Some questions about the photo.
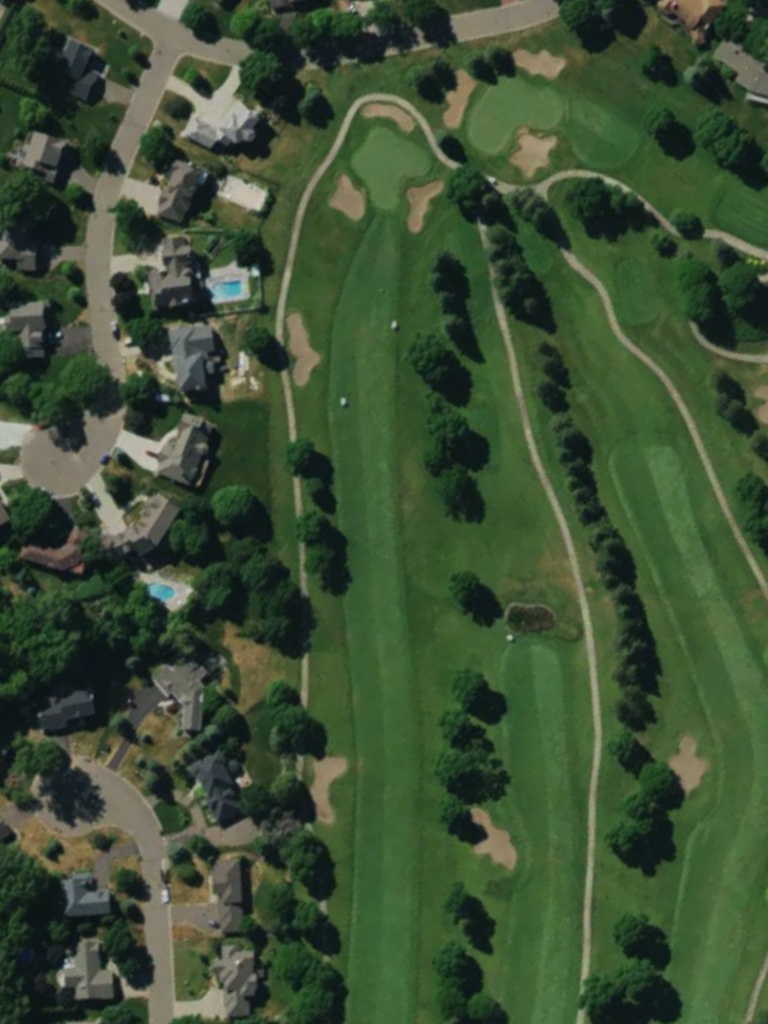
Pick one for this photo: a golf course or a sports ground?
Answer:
golf course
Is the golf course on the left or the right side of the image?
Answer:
right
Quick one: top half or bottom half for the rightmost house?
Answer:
top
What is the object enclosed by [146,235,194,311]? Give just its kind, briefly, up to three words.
house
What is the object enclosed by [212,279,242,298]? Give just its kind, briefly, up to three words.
swimming pool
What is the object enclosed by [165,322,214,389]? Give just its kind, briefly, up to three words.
house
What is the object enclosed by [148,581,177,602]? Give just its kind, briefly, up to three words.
swimming pool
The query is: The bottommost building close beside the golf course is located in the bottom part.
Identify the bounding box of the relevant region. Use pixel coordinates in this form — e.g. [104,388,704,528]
[208,944,261,1018]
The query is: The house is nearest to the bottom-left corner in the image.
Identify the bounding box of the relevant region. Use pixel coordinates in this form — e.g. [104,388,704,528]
[56,940,115,1001]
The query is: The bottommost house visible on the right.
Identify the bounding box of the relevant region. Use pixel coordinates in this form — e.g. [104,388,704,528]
[709,42,768,101]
